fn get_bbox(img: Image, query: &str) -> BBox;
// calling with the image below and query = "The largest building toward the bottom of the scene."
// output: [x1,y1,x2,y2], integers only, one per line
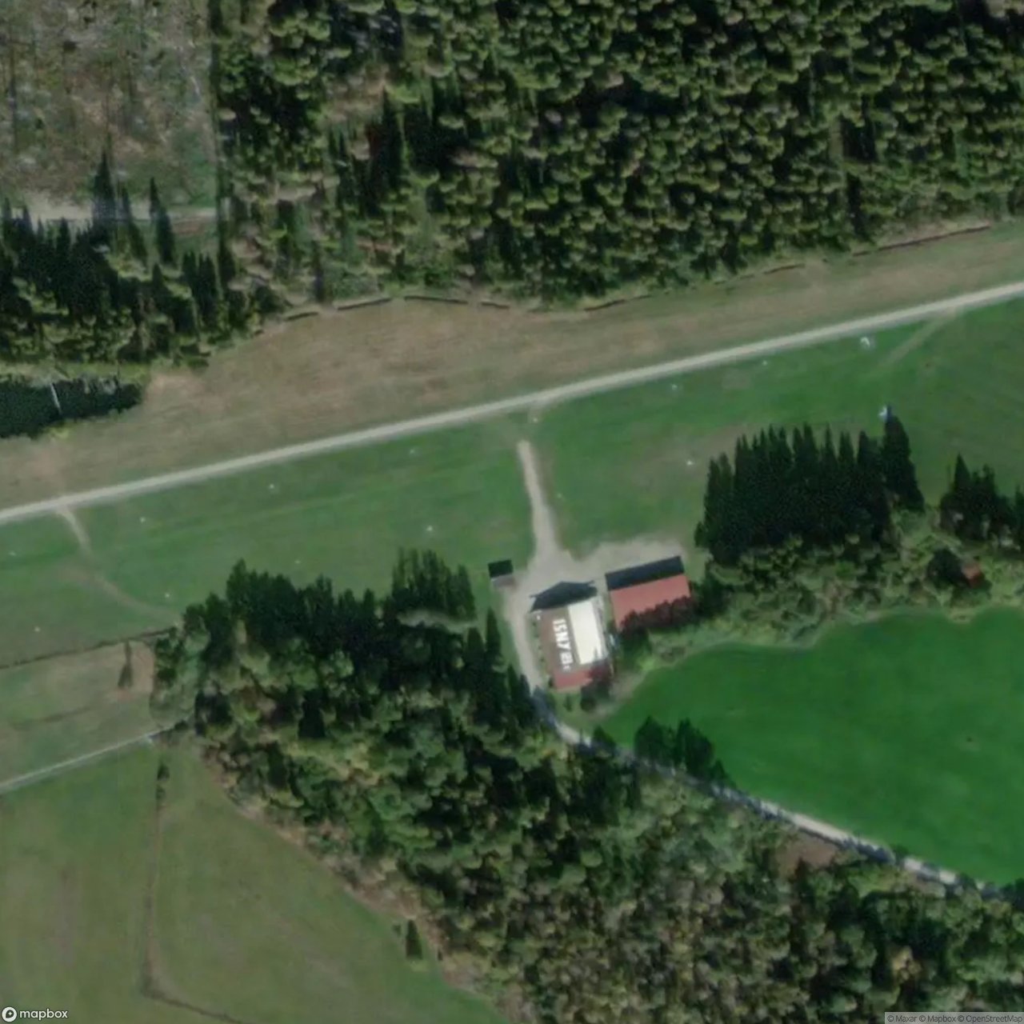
[534,596,616,691]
